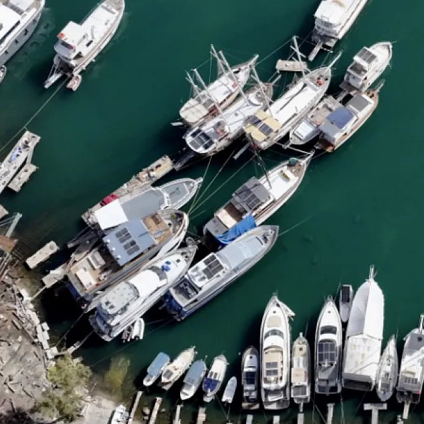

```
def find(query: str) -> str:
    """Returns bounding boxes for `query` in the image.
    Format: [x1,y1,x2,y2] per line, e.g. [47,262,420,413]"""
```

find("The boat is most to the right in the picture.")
[397,314,424,419]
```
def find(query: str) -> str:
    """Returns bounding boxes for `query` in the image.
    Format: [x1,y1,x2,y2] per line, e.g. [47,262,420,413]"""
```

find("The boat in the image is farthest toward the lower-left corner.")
[113,406,129,424]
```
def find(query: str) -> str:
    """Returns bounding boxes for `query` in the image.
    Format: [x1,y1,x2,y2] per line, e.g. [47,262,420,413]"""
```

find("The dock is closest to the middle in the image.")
[83,154,176,224]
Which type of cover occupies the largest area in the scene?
water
